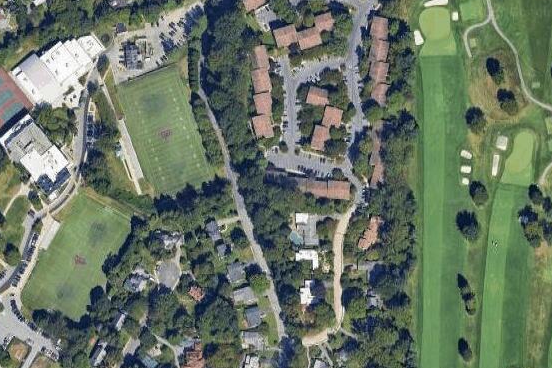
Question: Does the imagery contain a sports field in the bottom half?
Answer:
Yes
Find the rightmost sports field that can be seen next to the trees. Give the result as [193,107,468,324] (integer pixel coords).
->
[117,62,212,197]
